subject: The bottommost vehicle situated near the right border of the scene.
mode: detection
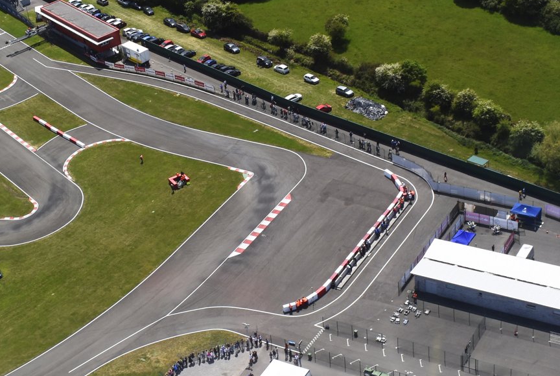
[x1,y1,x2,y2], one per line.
[513,235,538,260]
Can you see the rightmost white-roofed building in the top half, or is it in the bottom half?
bottom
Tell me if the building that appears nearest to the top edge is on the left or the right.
left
